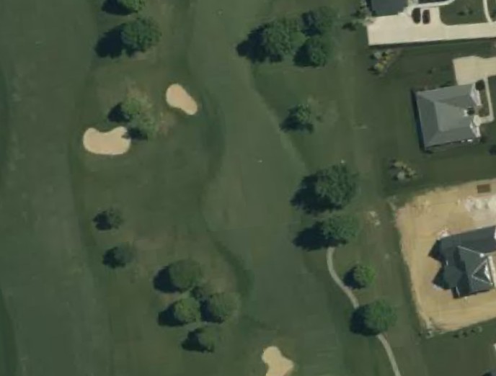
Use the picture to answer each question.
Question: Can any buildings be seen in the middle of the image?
No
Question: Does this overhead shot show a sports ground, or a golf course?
golf course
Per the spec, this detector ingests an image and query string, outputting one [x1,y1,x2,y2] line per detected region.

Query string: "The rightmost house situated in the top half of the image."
[417,83,482,149]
